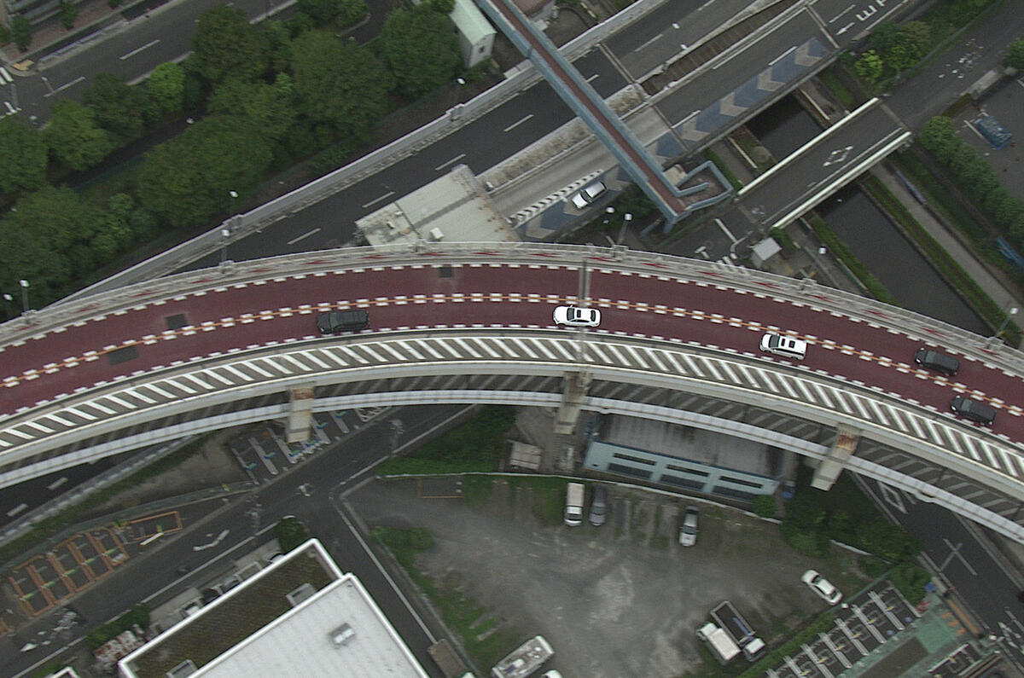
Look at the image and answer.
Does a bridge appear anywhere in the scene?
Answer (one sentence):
Yes, a bridge can be made out from above.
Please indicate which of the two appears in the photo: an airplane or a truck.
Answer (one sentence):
This aerial view contains a truck.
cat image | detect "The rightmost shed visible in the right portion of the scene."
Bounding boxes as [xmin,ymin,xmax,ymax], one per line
[751,237,783,269]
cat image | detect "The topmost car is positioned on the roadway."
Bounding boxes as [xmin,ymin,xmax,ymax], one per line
[571,177,610,209]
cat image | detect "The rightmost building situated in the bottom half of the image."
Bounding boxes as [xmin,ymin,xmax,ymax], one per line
[584,409,783,504]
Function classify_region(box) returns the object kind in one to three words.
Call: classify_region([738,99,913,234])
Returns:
bridge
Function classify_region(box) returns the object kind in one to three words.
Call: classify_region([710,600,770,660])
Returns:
truck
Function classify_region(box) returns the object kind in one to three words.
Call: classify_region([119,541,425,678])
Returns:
building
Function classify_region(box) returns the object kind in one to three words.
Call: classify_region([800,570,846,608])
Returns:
car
